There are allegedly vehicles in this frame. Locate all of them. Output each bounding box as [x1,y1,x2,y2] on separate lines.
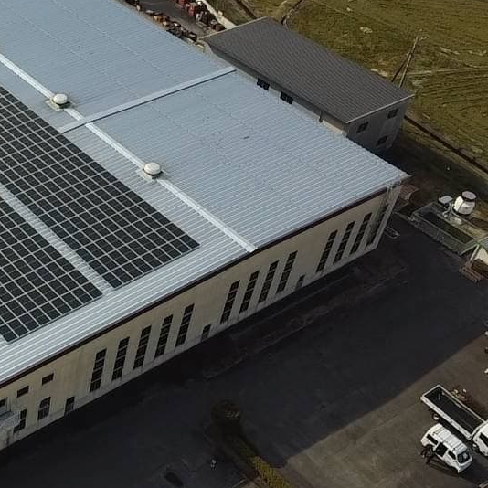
[417,421,475,474]
[417,384,488,461]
